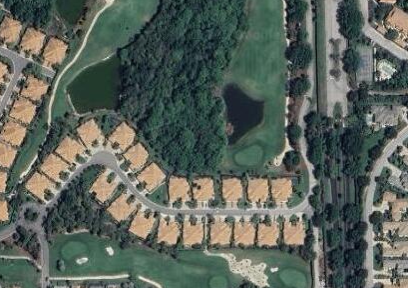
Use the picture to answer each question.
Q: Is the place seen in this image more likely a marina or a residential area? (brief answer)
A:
residential area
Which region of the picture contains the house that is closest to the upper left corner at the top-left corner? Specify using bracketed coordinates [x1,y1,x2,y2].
[0,18,22,44]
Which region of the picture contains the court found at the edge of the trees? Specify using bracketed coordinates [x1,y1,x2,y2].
[356,46,374,81]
